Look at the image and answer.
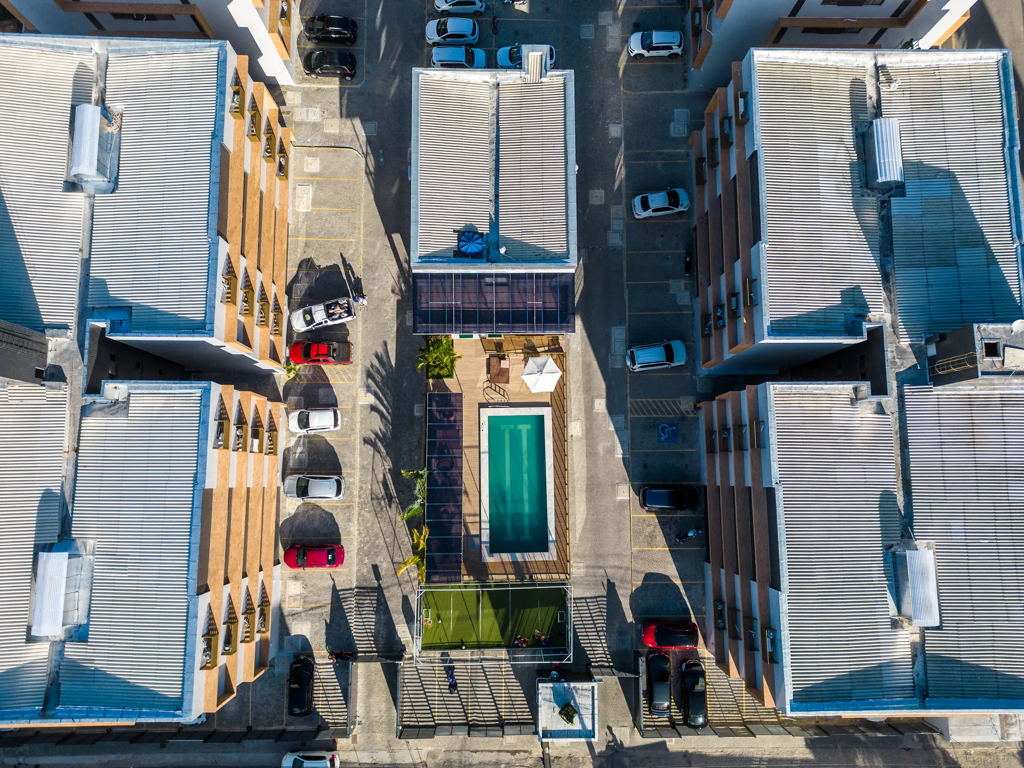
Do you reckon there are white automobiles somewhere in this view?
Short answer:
Yes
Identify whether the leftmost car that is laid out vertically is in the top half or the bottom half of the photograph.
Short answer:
bottom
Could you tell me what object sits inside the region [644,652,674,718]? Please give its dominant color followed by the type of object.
black car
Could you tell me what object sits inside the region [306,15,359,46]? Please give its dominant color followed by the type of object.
black car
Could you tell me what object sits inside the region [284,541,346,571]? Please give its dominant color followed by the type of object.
red car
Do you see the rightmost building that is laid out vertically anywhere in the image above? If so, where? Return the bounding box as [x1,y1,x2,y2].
[689,44,1024,719]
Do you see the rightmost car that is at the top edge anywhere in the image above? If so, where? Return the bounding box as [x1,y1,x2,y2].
[628,29,684,60]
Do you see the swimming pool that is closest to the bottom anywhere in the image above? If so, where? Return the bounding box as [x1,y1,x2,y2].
[480,407,555,562]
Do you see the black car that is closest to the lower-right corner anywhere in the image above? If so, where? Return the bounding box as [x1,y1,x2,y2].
[678,657,709,726]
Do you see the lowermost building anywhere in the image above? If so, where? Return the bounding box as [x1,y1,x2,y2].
[538,673,597,742]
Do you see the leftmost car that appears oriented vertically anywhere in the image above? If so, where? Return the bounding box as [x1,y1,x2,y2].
[286,649,317,718]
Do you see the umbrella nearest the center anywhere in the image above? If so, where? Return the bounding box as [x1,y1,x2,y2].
[521,357,563,393]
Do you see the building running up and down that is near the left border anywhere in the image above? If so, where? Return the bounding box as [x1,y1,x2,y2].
[0,42,295,724]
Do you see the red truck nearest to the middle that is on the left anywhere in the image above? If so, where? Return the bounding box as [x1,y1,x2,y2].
[289,338,355,367]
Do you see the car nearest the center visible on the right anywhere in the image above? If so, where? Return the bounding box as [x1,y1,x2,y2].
[625,339,684,371]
